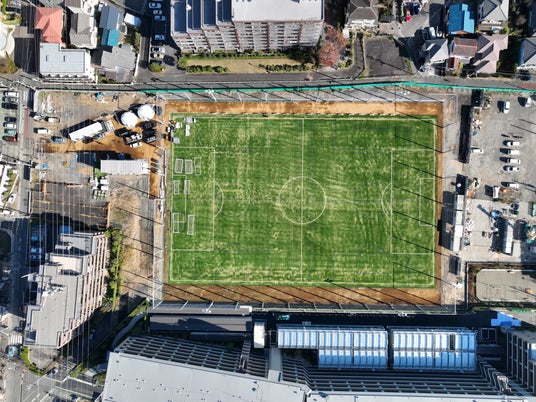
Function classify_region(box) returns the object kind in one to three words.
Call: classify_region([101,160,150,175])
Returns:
building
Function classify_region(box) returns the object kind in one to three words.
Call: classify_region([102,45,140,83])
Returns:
house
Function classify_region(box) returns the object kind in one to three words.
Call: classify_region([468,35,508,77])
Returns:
house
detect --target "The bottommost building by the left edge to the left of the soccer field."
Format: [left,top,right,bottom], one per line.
[24,230,115,349]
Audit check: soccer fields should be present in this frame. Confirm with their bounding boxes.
[163,100,442,305]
